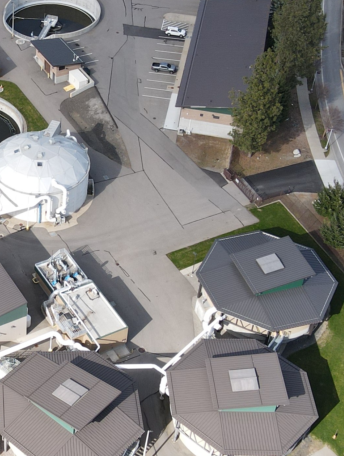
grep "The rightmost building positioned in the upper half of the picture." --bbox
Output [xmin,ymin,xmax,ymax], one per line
[175,0,270,132]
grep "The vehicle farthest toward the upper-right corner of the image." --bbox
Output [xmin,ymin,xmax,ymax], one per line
[165,25,187,38]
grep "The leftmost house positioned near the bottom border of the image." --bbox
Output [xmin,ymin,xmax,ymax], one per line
[0,350,145,456]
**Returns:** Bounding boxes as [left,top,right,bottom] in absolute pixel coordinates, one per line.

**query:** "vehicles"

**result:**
[150,61,178,75]
[165,25,187,38]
